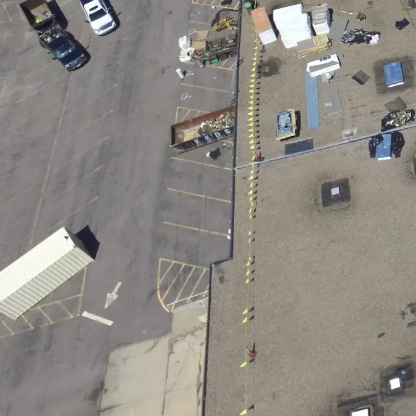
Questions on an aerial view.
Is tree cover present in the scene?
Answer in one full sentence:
No, the picture contains no tree cover.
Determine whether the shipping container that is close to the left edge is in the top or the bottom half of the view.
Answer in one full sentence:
The bottom half of the photo is where the shipping container that is close to the left edge is.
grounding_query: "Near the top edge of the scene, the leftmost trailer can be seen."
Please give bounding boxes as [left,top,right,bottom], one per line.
[10,0,56,34]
